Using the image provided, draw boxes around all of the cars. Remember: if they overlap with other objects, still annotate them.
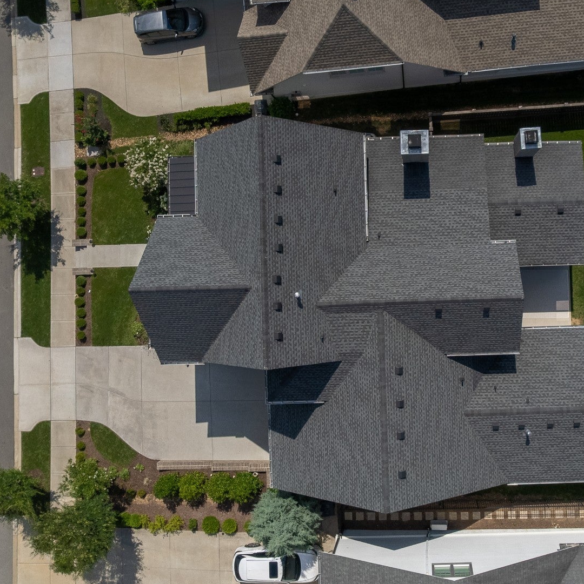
[132,5,205,47]
[235,543,317,584]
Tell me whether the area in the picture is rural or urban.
urban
